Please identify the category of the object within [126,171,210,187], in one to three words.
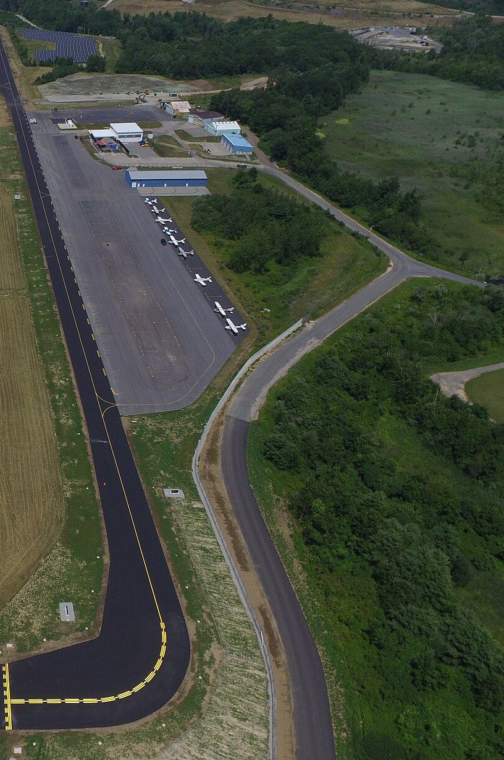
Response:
hangar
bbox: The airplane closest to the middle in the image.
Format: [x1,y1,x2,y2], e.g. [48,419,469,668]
[226,318,249,333]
